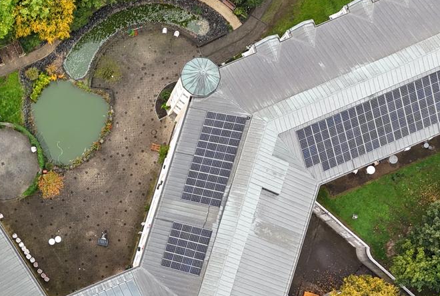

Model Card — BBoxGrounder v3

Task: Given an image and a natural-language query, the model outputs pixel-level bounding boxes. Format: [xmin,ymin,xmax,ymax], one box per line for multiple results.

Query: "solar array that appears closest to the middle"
[181,112,246,206]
